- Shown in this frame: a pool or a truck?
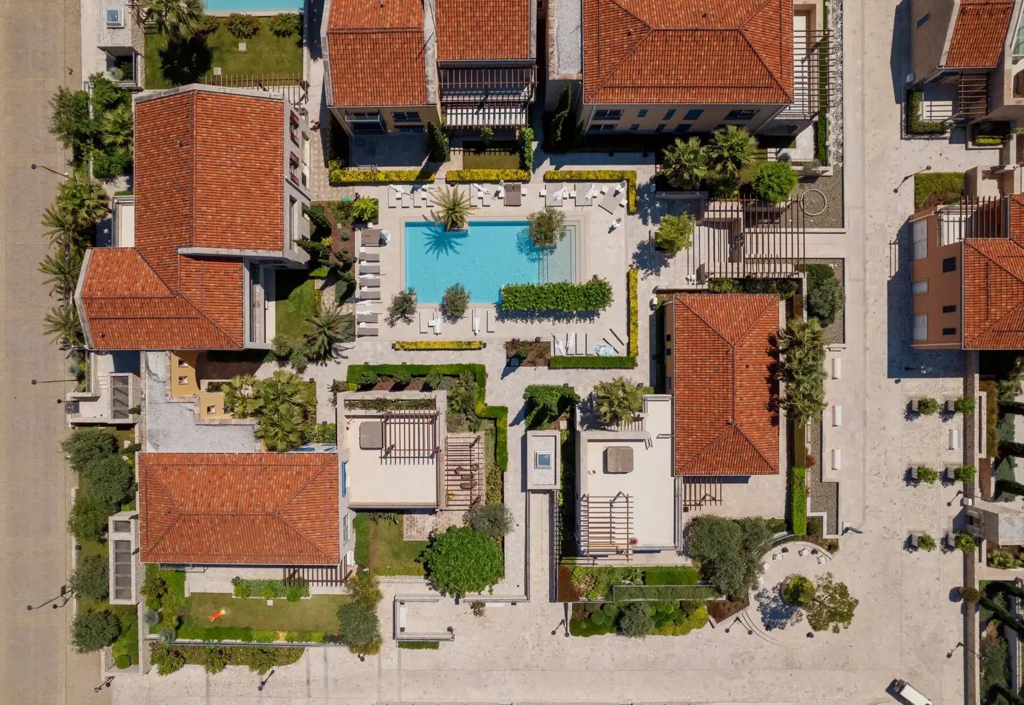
pool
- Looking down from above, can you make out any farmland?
No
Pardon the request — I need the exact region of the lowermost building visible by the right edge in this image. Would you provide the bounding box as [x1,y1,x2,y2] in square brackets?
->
[952,501,1024,545]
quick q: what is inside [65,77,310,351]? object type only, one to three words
house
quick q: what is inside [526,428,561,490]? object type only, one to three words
building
